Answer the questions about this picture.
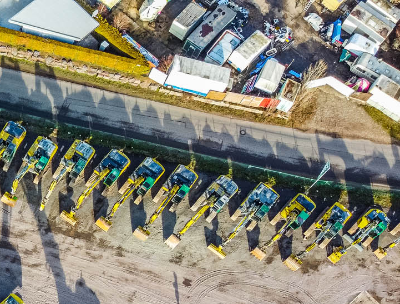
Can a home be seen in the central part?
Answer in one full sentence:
No, I see no home in the central part.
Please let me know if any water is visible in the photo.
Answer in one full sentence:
No, there's no water in this view.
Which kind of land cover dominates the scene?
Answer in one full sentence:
What you mostly see from above here is paved ground.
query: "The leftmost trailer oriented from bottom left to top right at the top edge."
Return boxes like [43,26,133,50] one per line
[169,2,207,41]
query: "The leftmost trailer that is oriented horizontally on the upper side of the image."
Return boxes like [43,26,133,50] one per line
[168,55,231,93]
